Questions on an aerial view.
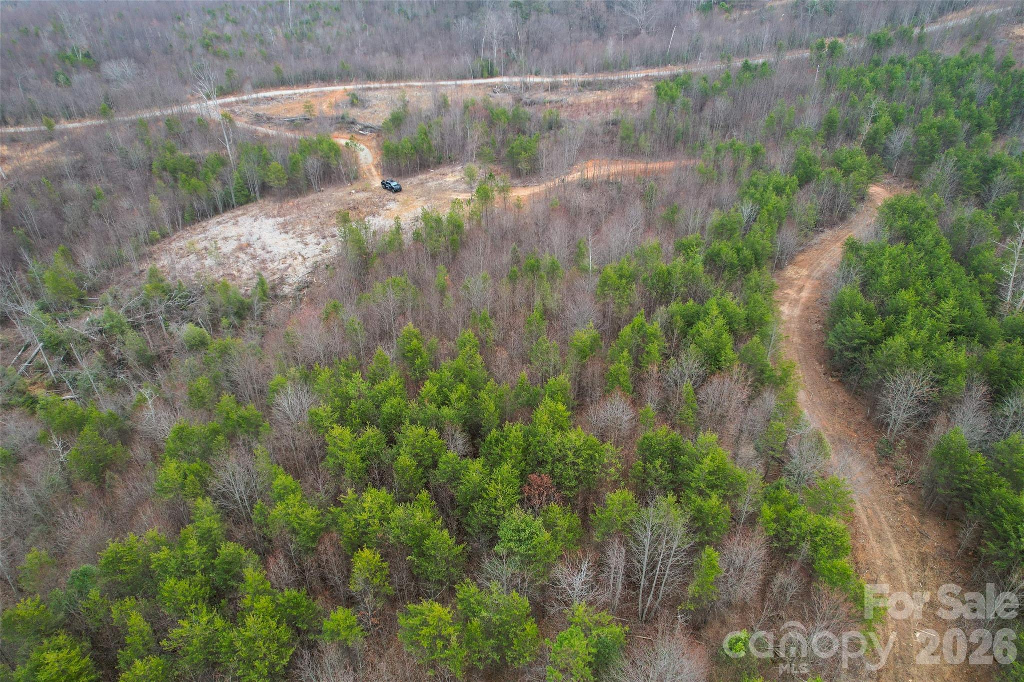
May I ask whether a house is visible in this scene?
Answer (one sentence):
No, no house is visible in the scene.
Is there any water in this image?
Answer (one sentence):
No, water can't be seen anywhere here.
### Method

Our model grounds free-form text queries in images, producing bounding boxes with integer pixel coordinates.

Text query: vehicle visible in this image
[382,180,402,193]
